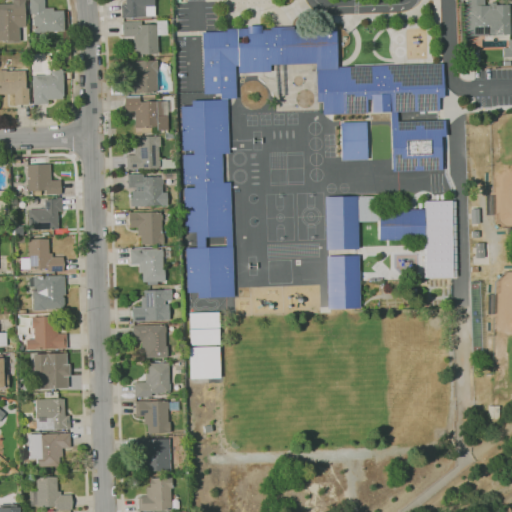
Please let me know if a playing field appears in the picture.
Yes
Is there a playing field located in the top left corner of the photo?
No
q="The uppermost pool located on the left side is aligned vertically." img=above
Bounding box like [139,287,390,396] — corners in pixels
[158,64,172,93]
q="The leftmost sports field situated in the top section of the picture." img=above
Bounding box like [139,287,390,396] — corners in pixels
[372,126,391,161]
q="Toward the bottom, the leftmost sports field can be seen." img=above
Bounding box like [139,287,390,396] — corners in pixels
[223,310,448,451]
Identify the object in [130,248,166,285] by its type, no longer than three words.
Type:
house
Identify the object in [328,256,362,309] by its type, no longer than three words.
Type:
building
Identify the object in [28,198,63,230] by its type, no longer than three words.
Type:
house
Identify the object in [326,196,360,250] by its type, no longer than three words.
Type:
building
